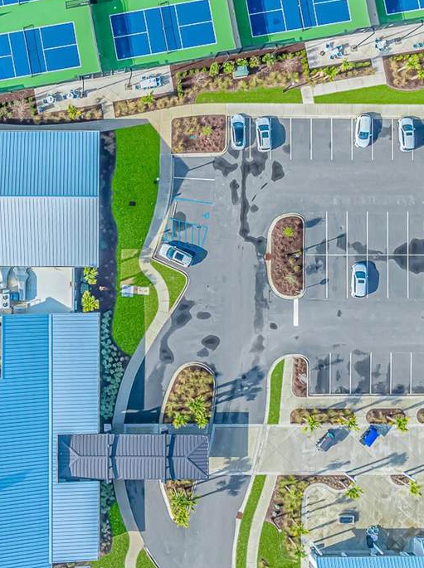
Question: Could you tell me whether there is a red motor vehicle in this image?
No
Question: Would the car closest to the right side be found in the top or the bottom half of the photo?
top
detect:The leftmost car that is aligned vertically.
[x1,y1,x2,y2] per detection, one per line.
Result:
[229,114,247,150]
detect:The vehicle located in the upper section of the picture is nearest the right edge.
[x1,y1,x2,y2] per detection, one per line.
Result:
[397,117,417,152]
